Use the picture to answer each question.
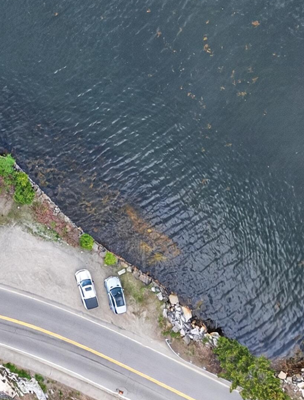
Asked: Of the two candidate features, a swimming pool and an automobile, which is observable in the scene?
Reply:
automobile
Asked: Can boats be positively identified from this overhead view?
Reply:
No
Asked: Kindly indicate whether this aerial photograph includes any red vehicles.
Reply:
No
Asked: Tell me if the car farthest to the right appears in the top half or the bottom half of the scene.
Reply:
bottom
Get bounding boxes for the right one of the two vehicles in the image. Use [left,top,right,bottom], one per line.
[106,276,131,318]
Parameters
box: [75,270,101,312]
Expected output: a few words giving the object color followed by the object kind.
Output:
white truck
